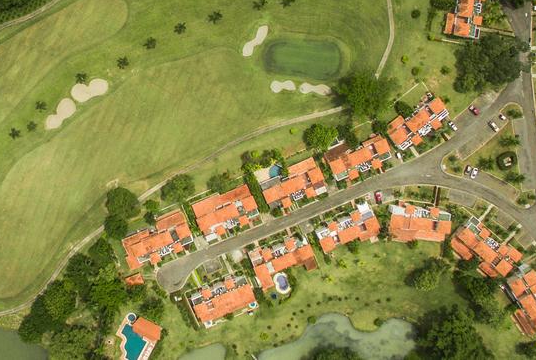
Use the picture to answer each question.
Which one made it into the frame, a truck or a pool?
pool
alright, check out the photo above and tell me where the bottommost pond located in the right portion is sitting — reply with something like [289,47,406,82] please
[257,312,422,360]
